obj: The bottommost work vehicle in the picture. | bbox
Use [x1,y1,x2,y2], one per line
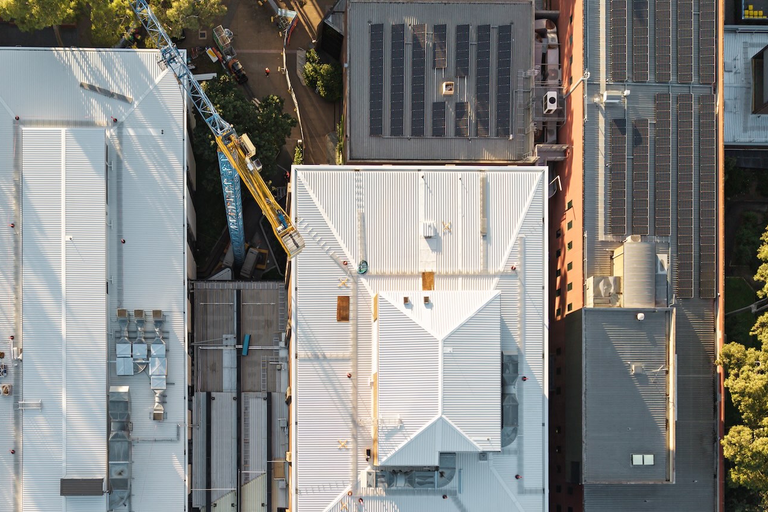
[217,41,252,88]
